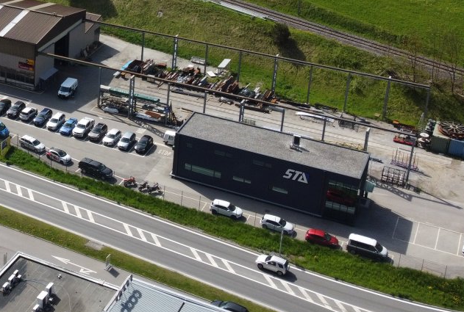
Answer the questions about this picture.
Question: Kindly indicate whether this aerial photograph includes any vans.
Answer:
Yes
